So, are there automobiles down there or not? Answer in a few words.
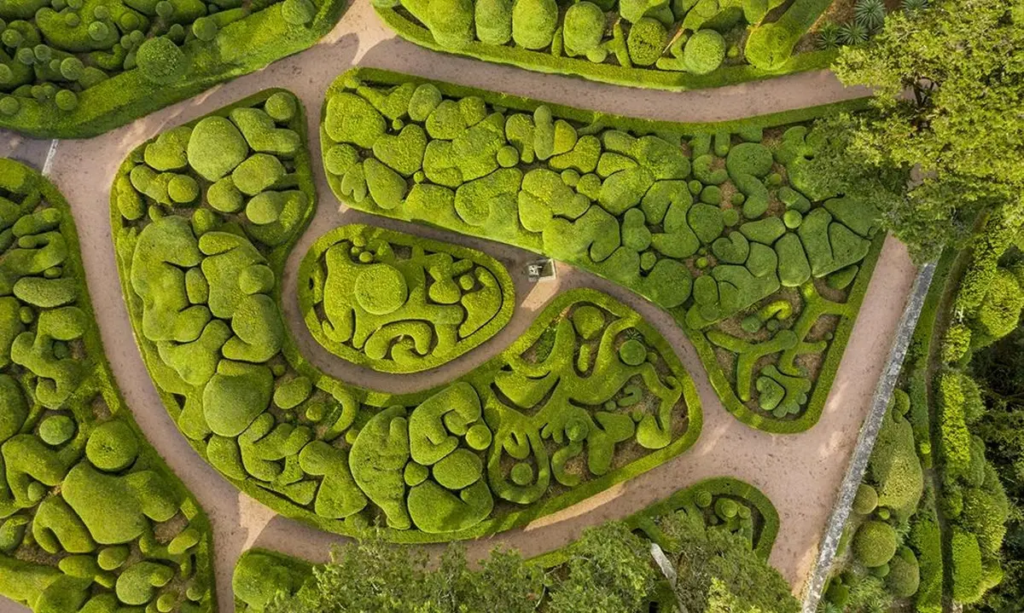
No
